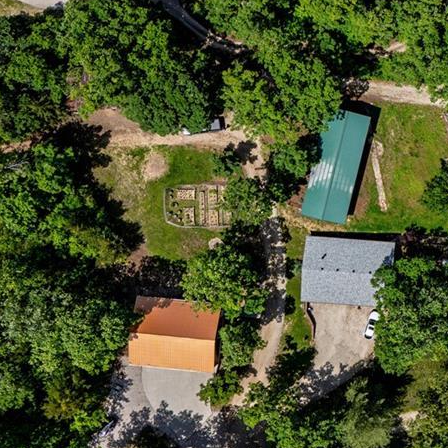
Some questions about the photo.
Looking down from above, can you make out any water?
No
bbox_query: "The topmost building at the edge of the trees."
[302,111,370,223]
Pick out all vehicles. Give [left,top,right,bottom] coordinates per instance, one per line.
[362,310,379,342]
[182,118,223,138]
